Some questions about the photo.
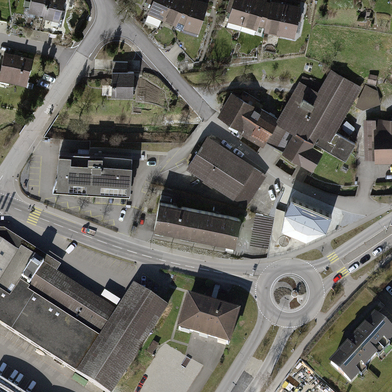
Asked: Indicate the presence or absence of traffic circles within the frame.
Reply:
Yes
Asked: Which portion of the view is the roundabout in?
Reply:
bottom right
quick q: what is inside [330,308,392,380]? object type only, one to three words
house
